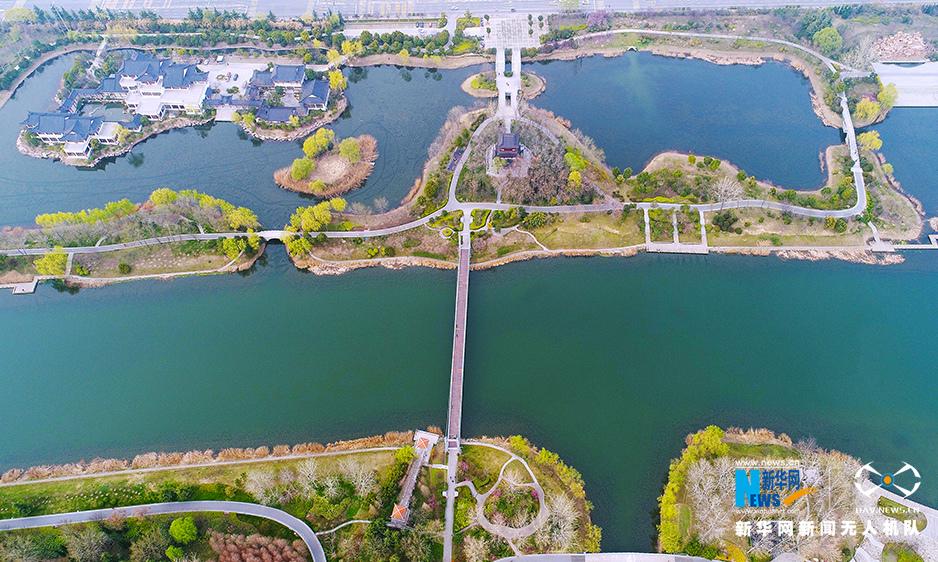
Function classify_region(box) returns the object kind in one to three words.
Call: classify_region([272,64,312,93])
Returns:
building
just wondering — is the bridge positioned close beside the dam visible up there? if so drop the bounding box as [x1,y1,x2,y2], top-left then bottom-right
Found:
[840,92,862,166]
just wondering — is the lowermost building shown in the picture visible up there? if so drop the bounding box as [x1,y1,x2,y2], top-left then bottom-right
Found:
[388,500,412,526]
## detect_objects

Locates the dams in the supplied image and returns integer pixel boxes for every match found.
[871,60,938,111]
